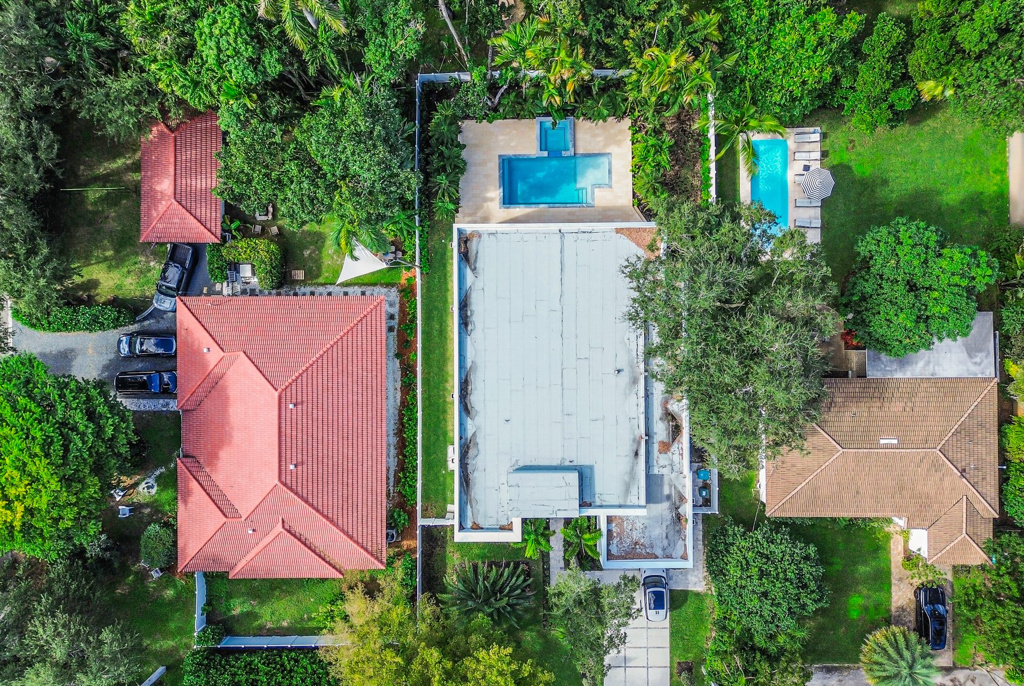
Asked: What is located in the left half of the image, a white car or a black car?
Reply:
black car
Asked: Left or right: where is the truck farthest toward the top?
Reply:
left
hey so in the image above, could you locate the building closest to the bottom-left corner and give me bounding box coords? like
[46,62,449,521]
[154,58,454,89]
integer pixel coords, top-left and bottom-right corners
[174,295,386,580]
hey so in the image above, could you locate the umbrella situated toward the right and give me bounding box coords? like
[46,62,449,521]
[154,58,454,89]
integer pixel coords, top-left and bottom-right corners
[800,167,833,201]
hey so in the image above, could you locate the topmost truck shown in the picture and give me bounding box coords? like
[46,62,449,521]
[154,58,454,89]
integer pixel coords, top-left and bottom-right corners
[151,242,202,315]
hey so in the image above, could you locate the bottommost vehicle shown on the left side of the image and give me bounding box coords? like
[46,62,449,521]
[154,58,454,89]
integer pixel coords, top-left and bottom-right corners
[113,368,176,398]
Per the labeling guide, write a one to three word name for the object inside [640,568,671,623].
car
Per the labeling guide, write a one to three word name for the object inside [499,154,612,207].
swimming pool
